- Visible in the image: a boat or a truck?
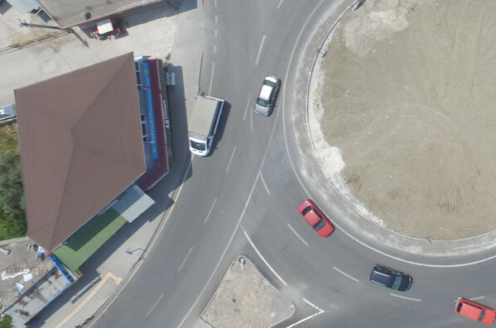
truck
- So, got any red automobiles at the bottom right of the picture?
Yes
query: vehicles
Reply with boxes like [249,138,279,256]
[297,199,336,238]
[256,74,282,117]
[90,19,123,38]
[370,265,414,292]
[453,297,496,325]
[192,95,226,155]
